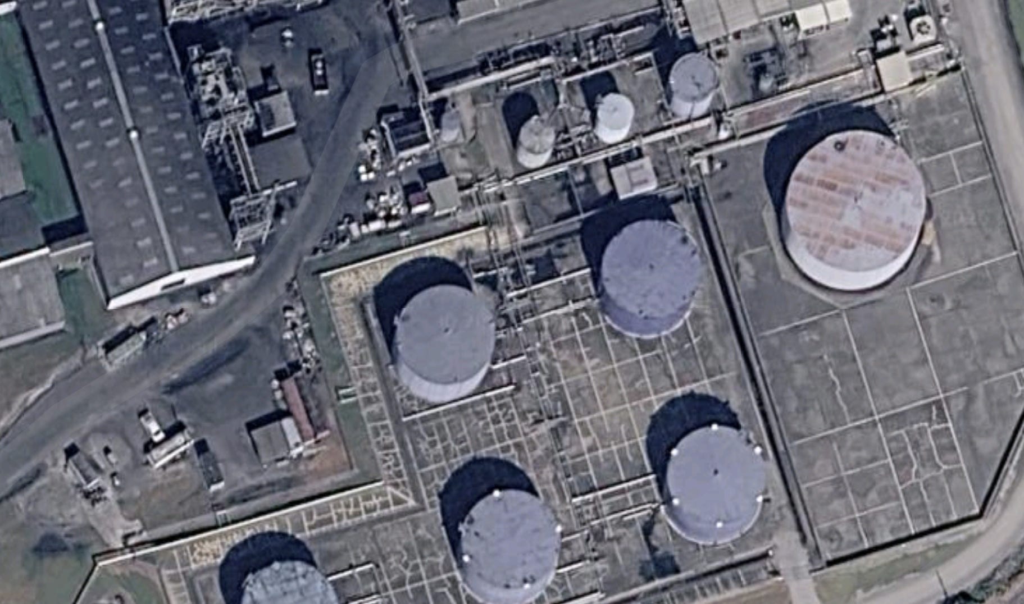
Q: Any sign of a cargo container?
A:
Yes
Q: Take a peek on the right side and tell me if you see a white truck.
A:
No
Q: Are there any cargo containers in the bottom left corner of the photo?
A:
Yes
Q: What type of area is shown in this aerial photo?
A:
industrial area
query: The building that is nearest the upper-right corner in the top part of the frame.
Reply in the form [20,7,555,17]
[876,52,913,95]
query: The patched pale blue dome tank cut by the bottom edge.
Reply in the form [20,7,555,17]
[239,560,339,604]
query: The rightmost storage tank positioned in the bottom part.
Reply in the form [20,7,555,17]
[658,424,766,545]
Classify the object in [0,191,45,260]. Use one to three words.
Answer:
shed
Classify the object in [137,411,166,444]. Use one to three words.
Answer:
truck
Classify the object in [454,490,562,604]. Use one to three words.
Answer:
storage tank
